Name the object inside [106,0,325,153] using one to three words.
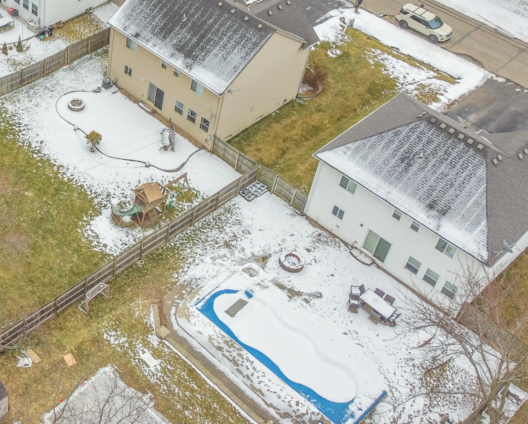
house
